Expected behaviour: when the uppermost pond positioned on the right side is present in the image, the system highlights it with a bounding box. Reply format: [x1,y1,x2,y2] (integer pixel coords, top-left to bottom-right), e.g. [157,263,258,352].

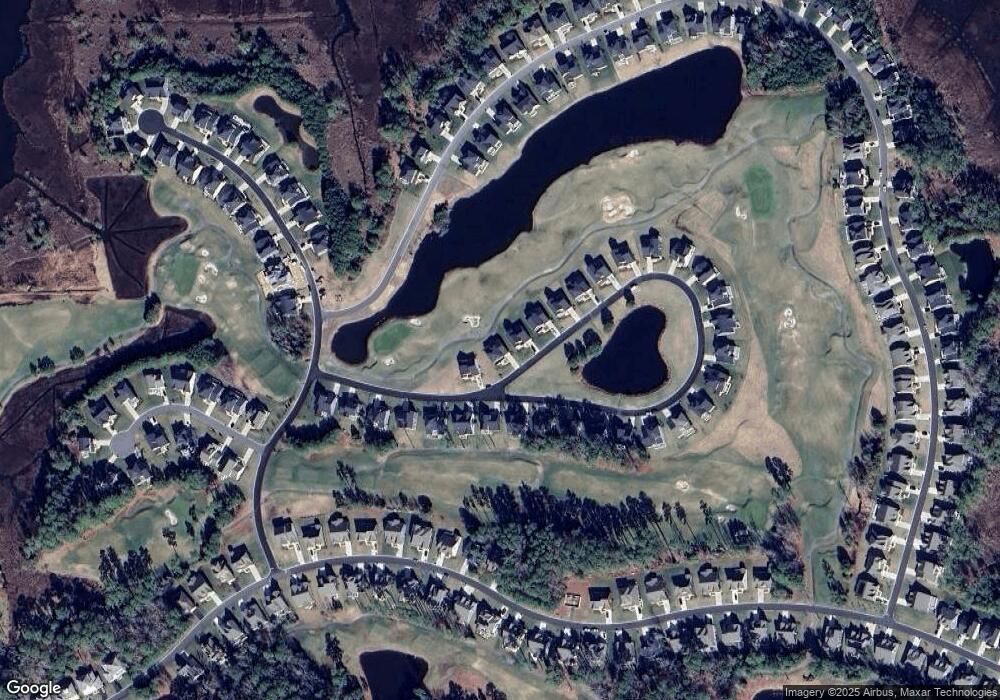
[951,239,996,306]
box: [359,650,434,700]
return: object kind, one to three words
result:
pond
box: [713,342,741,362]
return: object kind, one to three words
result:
house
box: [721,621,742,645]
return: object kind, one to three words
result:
house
